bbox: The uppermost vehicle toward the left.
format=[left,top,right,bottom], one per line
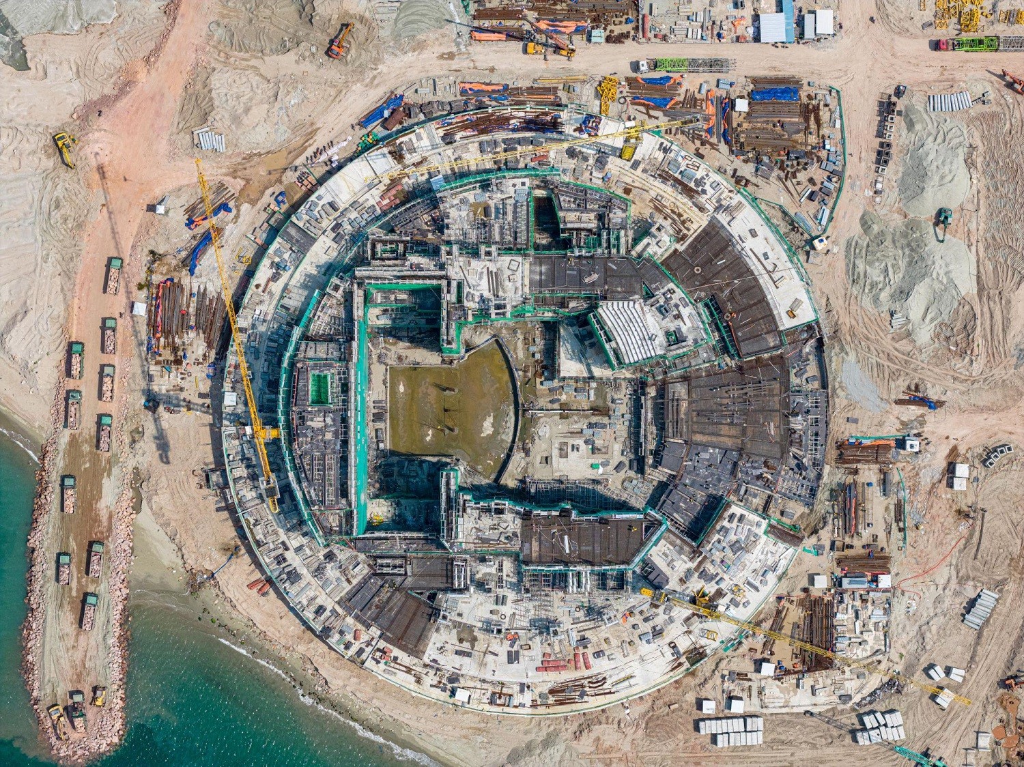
[324,22,354,61]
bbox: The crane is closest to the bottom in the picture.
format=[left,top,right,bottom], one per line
[893,745,951,767]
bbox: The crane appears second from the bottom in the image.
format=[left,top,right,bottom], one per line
[638,579,971,705]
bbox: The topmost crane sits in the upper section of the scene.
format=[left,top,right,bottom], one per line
[516,13,577,64]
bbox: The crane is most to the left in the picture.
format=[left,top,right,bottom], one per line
[194,159,282,514]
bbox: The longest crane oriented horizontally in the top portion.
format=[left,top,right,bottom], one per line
[364,112,712,181]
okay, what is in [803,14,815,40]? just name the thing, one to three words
building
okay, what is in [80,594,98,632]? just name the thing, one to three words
vehicle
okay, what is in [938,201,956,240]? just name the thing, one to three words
work vehicle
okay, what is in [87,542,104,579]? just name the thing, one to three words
vehicle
